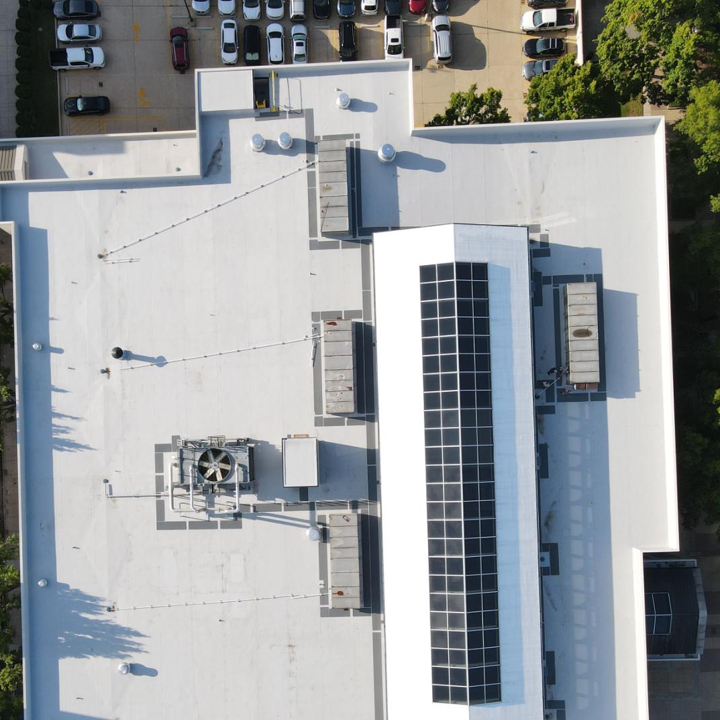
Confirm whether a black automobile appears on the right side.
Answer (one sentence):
Yes, there is a black automobile on the right side.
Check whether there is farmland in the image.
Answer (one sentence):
No, there's no farmland in this view.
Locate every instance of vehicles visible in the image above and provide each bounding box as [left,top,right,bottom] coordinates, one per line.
[57,0,99,22]
[430,17,454,65]
[240,0,262,21]
[288,0,305,23]
[336,20,359,62]
[218,18,240,66]
[168,28,191,76]
[67,94,110,118]
[311,0,334,20]
[520,7,577,35]
[50,44,104,72]
[240,21,263,67]
[263,0,287,18]
[431,0,450,14]
[383,14,407,60]
[216,0,237,16]
[263,23,287,66]
[409,0,428,16]
[521,58,567,83]
[336,0,358,18]
[59,20,102,45]
[525,0,572,12]
[361,0,379,16]
[288,25,310,65]
[524,36,566,61]
[193,0,211,15]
